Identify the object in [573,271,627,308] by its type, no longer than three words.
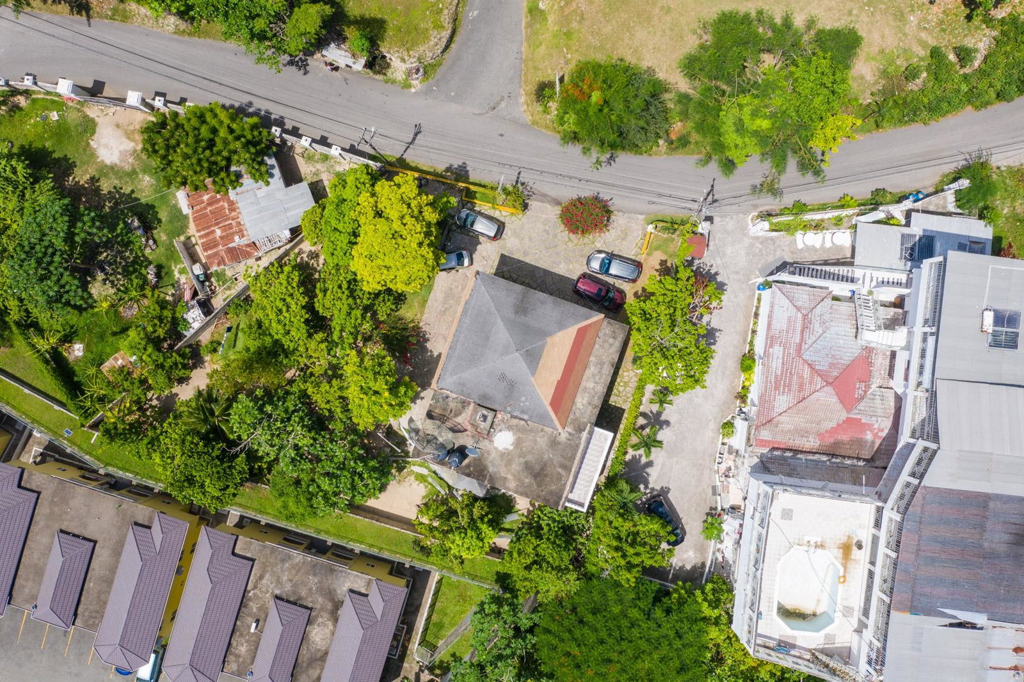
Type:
car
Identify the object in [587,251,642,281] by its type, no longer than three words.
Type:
car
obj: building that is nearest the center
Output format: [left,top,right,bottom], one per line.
[392,273,628,511]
